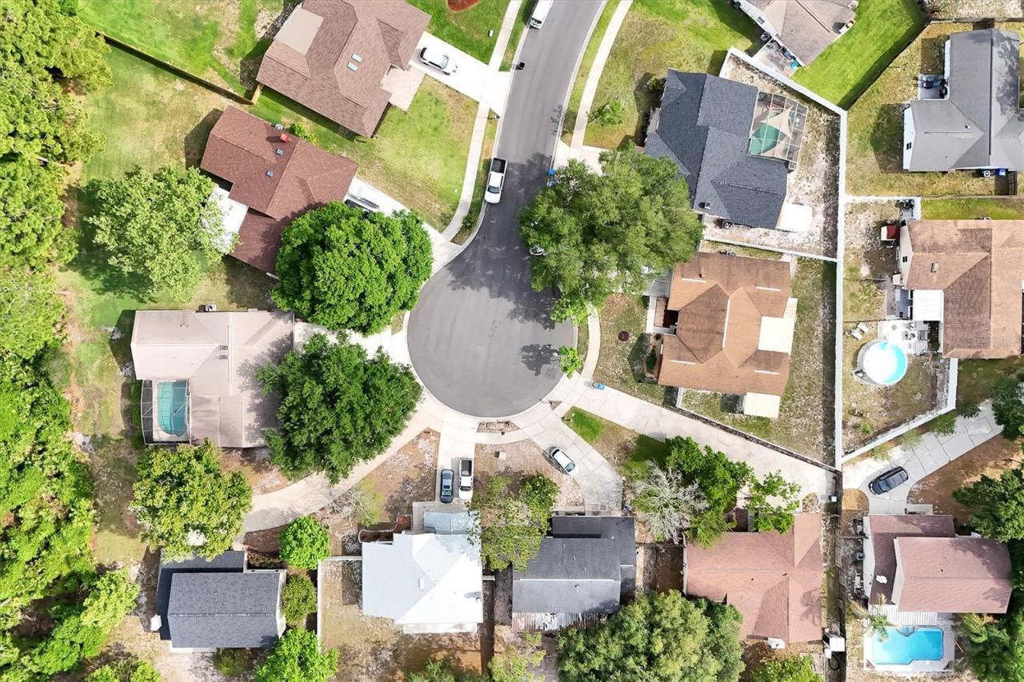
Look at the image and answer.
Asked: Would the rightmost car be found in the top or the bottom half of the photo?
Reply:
bottom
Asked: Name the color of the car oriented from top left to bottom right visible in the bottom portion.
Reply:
white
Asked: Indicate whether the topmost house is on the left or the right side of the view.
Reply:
right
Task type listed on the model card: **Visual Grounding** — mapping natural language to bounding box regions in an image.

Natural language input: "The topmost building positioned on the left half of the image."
[256,0,432,137]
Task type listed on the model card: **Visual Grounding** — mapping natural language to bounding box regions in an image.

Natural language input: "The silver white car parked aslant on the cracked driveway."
[543,444,577,478]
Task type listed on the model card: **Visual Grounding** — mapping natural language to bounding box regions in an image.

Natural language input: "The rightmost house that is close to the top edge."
[902,29,1024,172]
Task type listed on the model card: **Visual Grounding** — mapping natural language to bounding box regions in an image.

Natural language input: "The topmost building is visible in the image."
[746,0,858,68]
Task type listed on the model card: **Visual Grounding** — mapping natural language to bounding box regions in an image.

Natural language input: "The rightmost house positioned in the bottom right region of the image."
[862,514,1012,625]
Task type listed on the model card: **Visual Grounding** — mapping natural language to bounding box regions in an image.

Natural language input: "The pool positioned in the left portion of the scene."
[153,379,190,441]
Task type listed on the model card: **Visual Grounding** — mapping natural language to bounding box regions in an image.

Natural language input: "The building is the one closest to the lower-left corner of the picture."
[146,549,289,652]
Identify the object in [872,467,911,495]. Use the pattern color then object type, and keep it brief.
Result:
gray car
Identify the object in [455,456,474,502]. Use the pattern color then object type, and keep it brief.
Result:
white vehicle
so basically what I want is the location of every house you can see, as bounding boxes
[640,68,787,229]
[357,512,482,633]
[862,514,1012,625]
[146,549,289,652]
[902,29,1024,172]
[200,105,359,275]
[746,0,858,68]
[256,0,432,137]
[685,511,824,642]
[131,309,296,447]
[898,220,1024,359]
[657,251,798,418]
